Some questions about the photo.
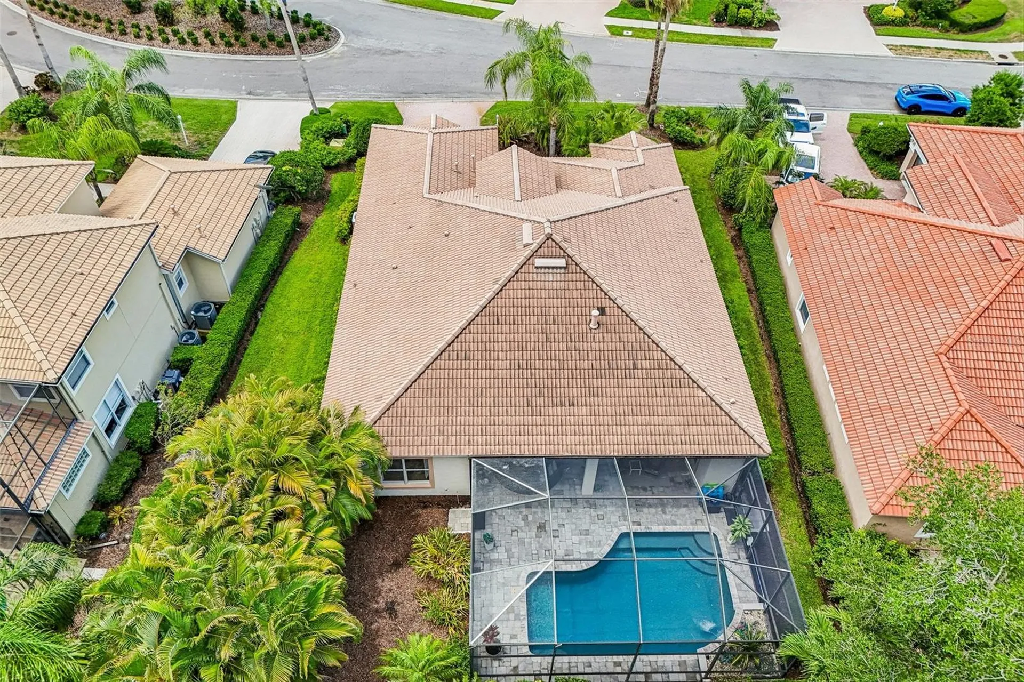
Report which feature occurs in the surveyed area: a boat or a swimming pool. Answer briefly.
swimming pool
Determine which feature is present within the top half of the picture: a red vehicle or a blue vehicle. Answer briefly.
blue vehicle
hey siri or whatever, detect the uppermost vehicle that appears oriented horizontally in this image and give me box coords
[894,79,970,113]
